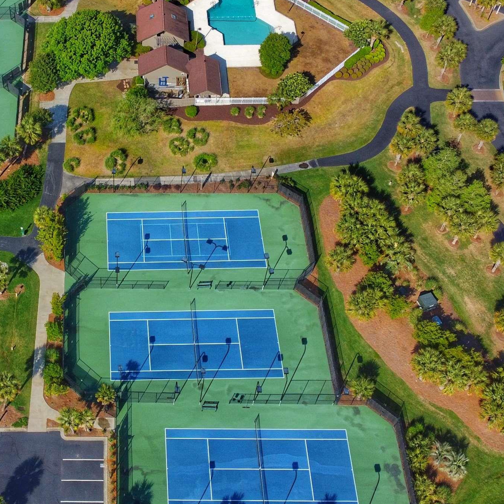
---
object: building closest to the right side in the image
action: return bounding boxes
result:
[189,53,224,104]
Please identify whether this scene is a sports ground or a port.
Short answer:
sports ground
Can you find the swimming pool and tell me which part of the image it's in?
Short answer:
top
